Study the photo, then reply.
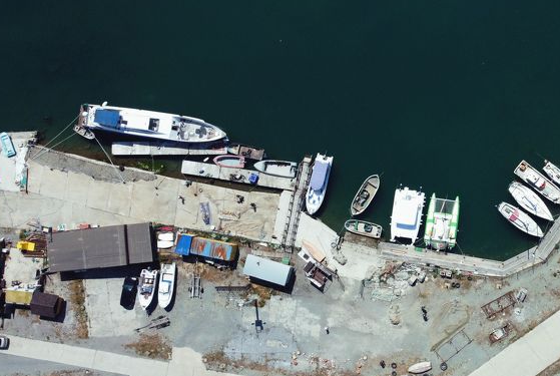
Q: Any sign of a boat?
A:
Yes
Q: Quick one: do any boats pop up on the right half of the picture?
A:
Yes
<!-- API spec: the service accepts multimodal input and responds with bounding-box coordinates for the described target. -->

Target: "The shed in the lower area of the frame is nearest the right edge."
[242,254,296,286]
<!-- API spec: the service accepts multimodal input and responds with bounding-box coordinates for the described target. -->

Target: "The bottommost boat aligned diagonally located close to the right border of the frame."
[495,202,544,237]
